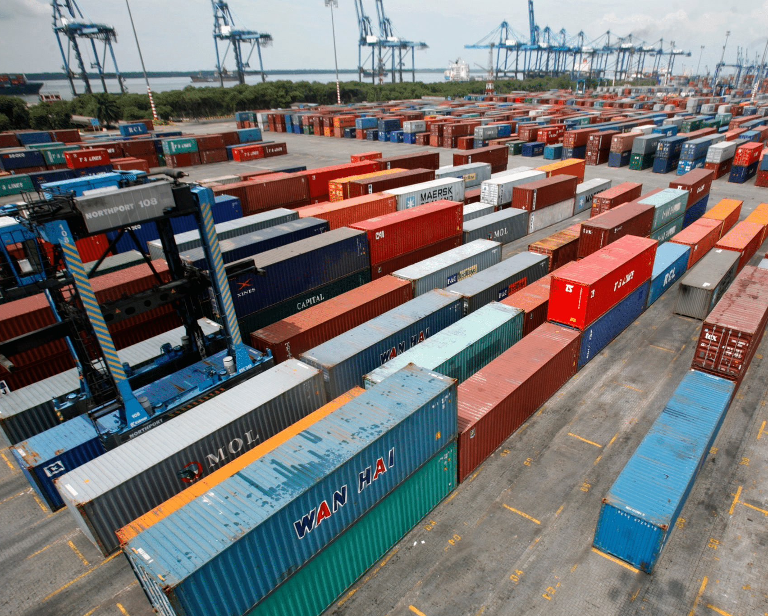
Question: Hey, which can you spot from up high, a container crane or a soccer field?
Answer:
container crane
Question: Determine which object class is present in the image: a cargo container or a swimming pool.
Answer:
cargo container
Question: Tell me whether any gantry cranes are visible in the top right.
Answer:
Yes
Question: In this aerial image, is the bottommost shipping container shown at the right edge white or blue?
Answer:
blue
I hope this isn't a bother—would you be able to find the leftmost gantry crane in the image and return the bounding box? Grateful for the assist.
[53,0,130,99]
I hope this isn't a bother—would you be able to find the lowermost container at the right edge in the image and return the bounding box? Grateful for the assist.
[592,372,736,574]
